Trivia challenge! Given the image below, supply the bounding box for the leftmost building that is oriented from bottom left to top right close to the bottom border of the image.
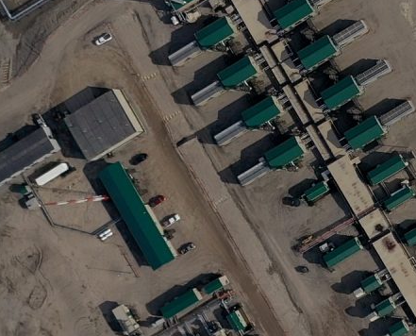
[158,286,206,324]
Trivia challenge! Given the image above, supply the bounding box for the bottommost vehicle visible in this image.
[178,242,198,256]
